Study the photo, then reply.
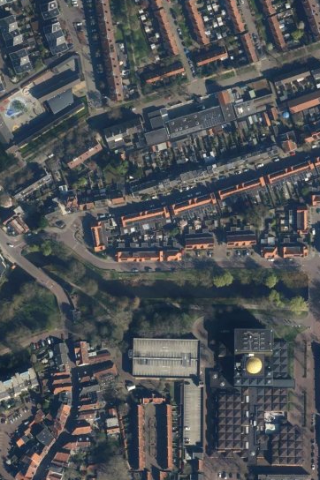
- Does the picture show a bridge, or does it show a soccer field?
bridge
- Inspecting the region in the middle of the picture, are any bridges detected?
No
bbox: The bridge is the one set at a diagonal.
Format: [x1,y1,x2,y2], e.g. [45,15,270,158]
[12,247,51,286]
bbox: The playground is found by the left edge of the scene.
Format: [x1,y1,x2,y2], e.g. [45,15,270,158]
[0,87,34,116]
